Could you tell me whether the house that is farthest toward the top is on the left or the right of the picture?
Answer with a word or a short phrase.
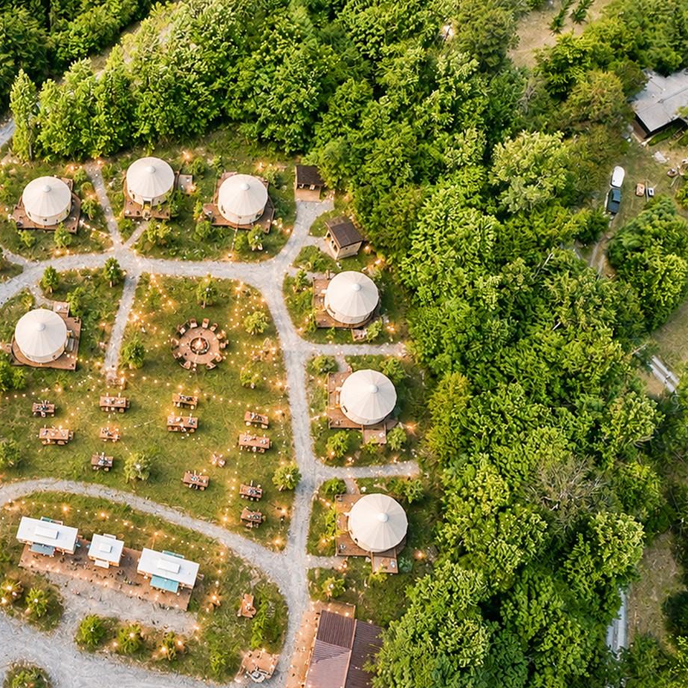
right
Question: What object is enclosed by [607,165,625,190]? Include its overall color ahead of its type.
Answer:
white vehicle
